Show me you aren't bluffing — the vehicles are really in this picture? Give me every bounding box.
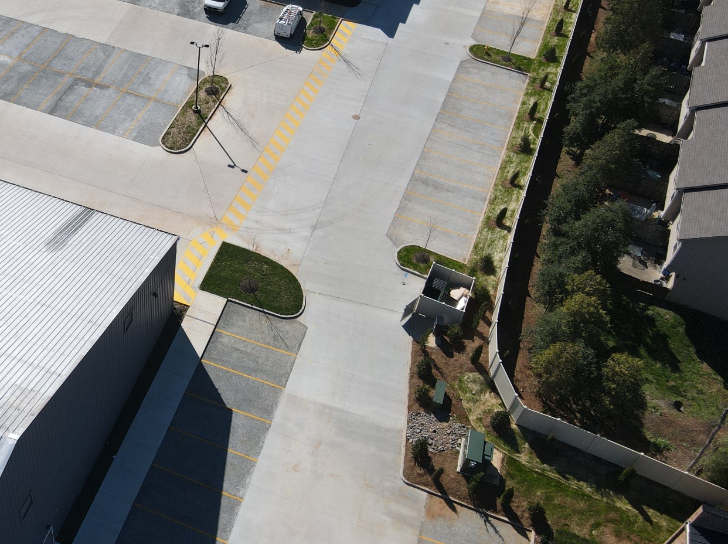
[203,0,229,12]
[273,0,305,34]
